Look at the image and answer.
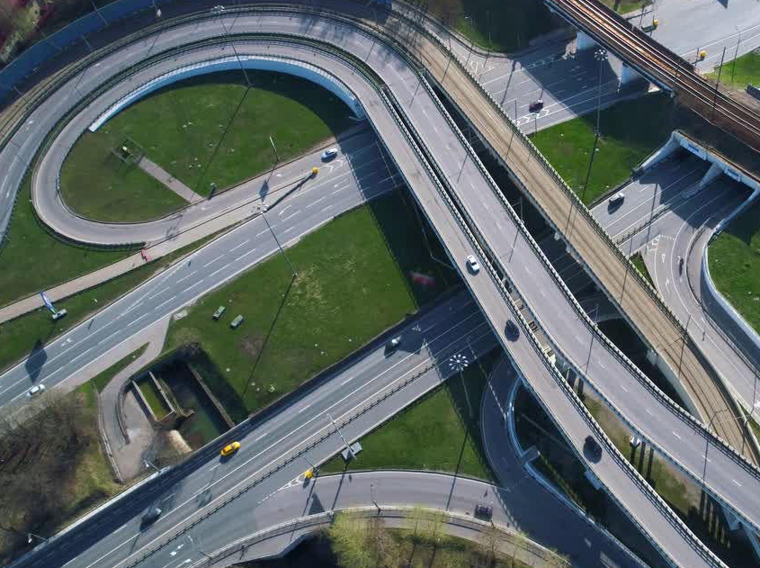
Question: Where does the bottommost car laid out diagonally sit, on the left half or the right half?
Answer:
left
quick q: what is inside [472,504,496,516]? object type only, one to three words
vehicle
